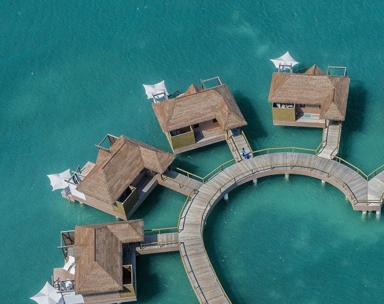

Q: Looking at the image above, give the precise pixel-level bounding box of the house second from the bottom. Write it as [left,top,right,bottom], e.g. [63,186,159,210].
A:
[64,131,178,220]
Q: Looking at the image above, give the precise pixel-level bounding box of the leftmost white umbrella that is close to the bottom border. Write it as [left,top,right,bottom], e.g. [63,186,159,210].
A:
[30,281,64,304]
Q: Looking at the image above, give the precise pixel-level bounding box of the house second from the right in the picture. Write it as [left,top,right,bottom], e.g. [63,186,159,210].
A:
[154,75,243,154]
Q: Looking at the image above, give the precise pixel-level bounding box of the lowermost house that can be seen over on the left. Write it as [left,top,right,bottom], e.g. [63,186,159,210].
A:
[52,217,146,304]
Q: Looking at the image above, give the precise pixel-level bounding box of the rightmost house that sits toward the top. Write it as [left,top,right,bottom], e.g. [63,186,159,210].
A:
[267,60,348,134]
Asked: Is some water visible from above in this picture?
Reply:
Yes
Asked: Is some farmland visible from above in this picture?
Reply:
No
